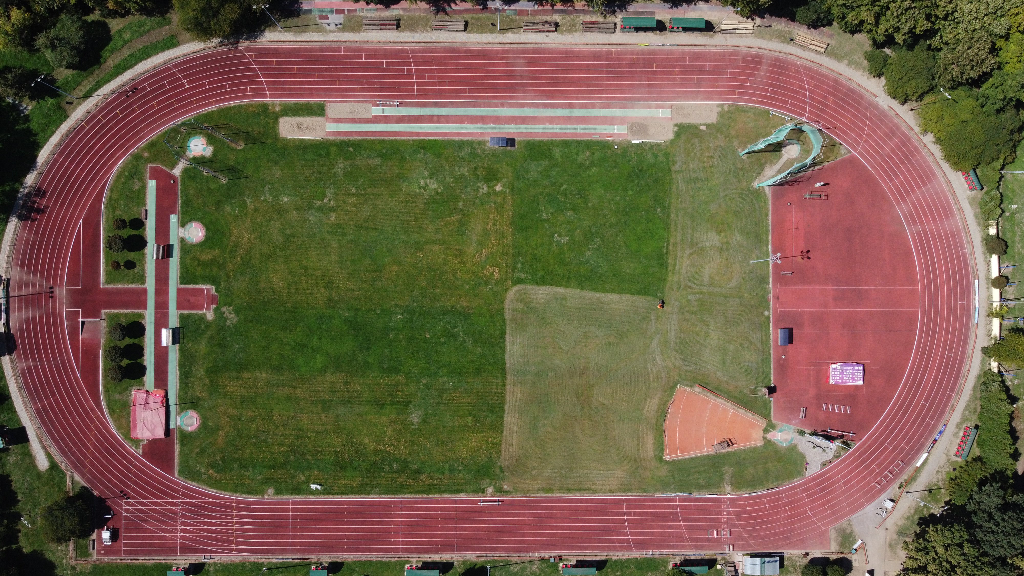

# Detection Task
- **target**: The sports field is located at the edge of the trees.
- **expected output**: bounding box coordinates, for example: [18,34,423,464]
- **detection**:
[101,101,856,499]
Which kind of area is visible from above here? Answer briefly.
sports ground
